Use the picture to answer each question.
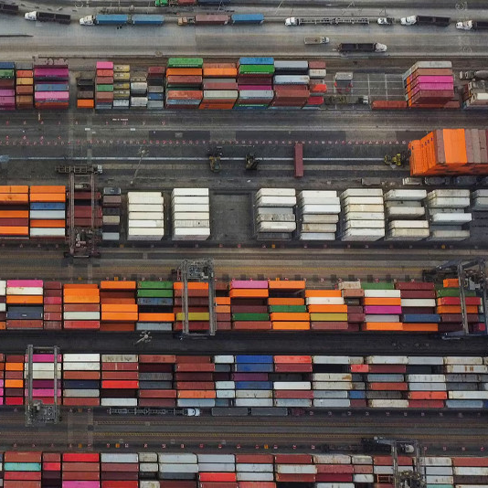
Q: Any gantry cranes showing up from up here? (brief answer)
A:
Yes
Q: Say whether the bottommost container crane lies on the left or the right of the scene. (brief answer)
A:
right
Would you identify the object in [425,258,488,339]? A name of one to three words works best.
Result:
container crane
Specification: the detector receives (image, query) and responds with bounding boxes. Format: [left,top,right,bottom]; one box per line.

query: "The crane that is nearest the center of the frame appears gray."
[171,257,217,340]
